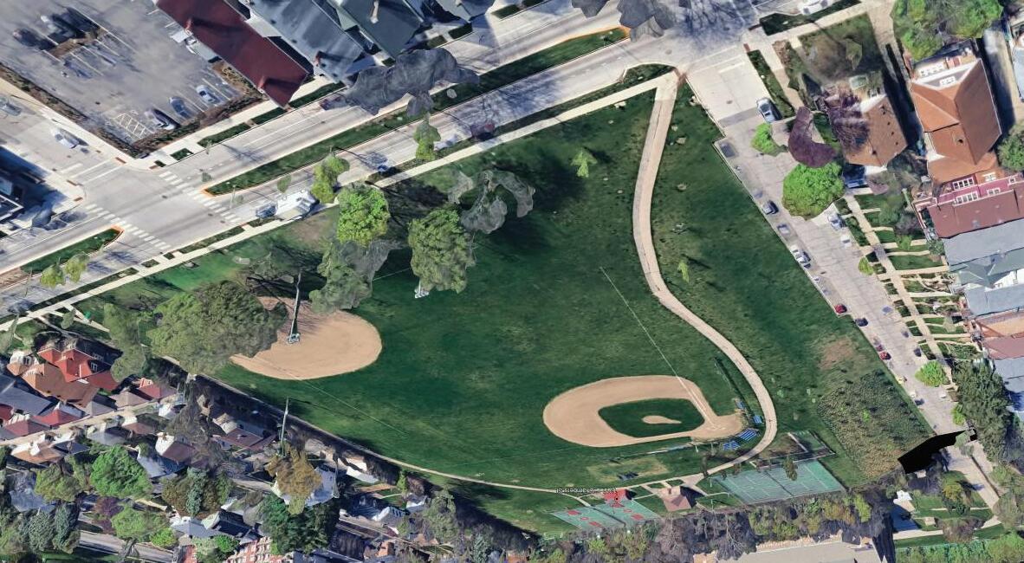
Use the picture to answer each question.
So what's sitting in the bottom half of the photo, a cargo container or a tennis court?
tennis court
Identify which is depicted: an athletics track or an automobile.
automobile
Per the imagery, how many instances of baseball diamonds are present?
2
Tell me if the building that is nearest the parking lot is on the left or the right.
left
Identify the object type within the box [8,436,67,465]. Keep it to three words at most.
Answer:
building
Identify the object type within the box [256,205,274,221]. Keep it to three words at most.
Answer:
car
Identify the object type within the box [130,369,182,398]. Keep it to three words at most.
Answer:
building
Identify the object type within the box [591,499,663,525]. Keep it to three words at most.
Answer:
basketball court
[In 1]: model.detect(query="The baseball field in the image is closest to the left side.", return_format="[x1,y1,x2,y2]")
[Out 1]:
[210,267,415,437]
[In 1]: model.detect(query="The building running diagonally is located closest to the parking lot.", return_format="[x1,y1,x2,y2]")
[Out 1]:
[141,0,316,108]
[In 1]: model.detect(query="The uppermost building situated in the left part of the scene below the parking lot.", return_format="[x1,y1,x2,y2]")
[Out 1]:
[0,159,44,228]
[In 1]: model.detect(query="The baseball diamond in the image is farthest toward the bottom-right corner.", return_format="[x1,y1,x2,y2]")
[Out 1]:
[543,269,745,447]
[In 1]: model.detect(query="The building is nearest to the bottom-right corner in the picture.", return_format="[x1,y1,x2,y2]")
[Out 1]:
[891,485,918,510]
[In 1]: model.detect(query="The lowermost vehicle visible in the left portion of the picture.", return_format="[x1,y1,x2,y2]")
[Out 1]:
[10,301,30,314]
